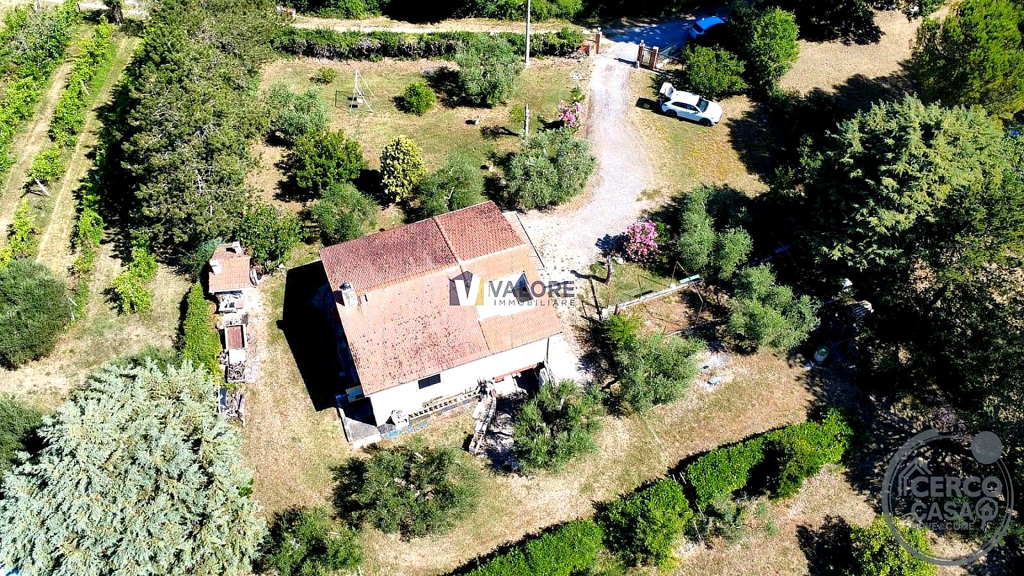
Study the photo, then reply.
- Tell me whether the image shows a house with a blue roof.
No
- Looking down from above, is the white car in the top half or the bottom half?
top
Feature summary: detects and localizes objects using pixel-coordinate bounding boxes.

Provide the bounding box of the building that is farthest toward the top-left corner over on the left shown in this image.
[205,239,266,310]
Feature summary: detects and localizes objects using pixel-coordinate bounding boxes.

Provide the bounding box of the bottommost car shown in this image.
[652,73,722,121]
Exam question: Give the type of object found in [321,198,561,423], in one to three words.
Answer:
house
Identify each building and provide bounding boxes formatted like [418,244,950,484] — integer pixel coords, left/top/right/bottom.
[321,198,561,423]
[205,239,266,310]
